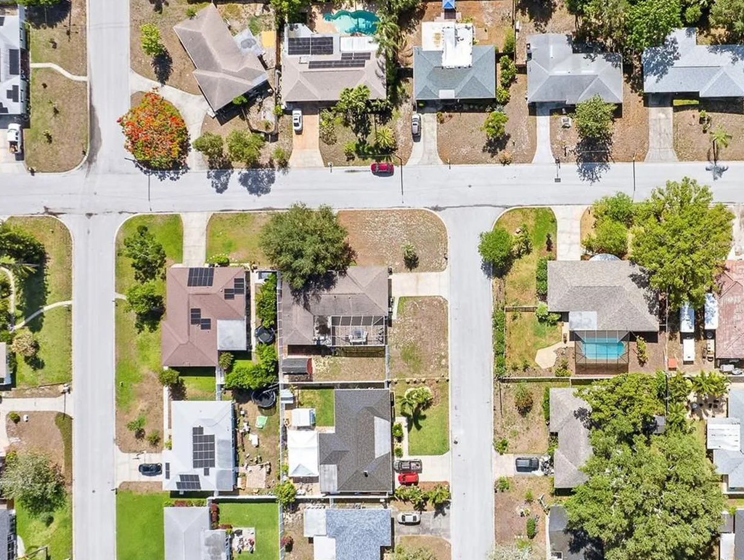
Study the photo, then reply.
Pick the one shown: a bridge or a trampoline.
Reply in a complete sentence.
I can see a trampoline in this picture.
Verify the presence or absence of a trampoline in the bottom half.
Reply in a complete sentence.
Yes, there is a trampoline in the bottom half.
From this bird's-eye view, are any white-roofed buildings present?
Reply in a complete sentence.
Yes, a white-roofed building can be made out from above.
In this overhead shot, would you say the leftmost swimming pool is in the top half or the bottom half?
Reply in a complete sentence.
You can find the leftmost swimming pool in the top half.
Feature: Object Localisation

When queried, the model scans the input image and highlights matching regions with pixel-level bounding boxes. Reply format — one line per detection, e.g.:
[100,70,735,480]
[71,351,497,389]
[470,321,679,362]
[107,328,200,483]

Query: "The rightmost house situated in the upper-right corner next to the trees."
[643,28,744,98]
